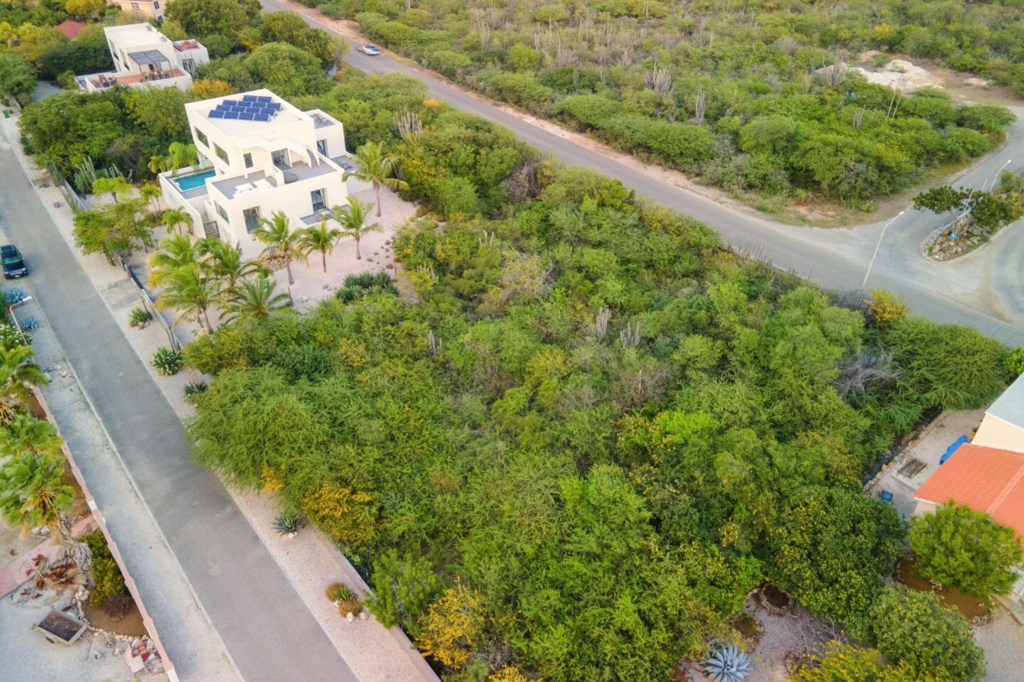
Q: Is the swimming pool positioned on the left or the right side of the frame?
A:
left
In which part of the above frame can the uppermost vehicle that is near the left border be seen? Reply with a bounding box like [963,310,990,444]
[0,239,31,279]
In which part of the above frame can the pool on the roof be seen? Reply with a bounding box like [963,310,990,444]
[178,172,217,192]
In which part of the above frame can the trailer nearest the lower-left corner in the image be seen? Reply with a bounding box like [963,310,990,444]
[33,601,89,647]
